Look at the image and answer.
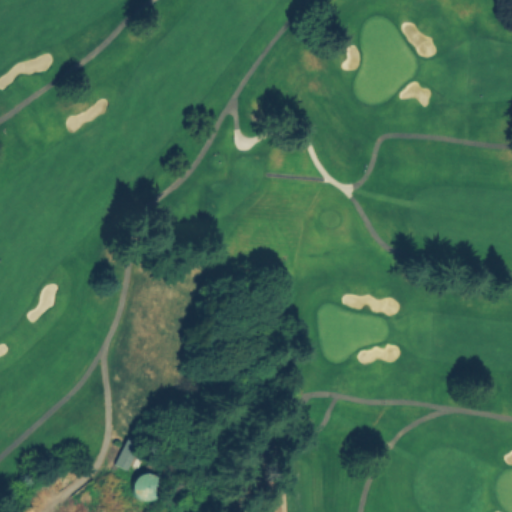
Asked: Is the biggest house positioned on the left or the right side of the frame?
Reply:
left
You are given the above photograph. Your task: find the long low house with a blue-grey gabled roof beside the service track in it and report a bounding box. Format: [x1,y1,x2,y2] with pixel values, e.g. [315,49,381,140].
[115,442,136,472]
